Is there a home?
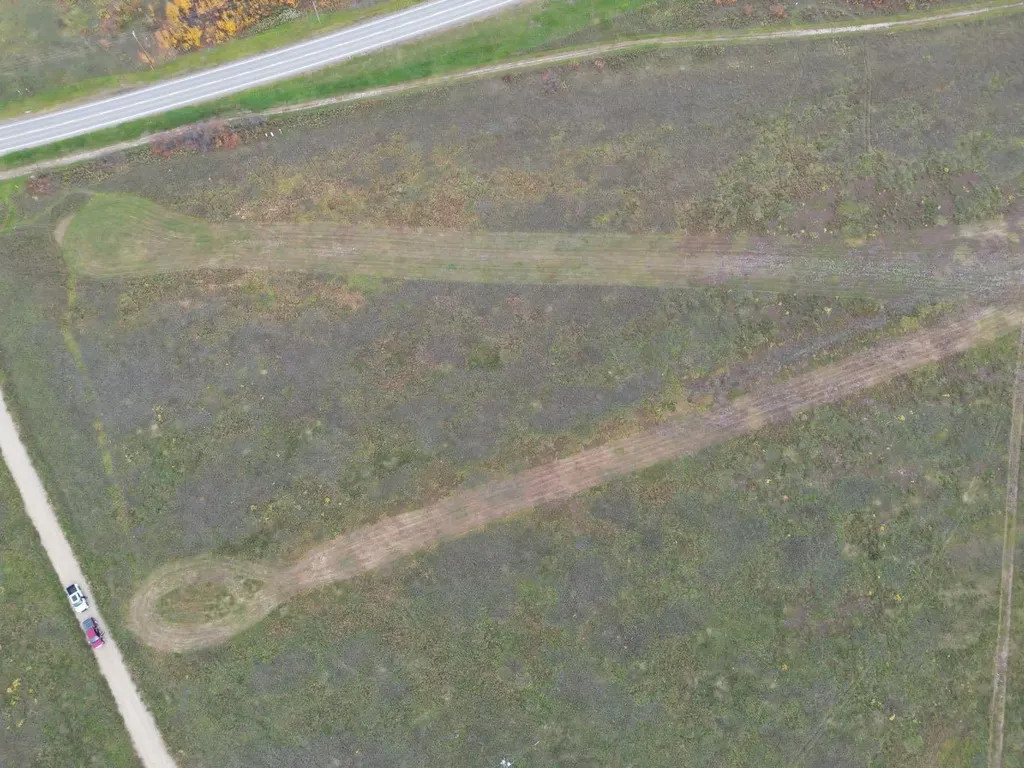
No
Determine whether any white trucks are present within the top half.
No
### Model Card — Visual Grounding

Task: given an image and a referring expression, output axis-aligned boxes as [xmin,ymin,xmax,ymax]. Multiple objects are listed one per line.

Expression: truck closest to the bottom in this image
[81,616,107,649]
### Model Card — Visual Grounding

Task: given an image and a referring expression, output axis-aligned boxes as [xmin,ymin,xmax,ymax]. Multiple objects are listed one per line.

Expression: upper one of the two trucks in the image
[66,583,90,614]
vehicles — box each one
[81,616,107,649]
[66,583,90,614]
